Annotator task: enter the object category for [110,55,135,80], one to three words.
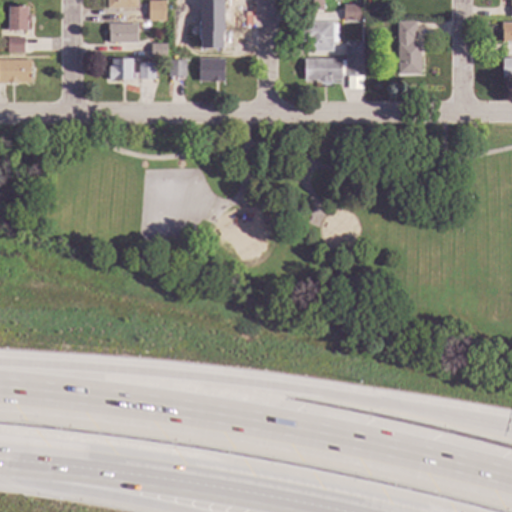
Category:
house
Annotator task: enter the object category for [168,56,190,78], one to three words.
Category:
building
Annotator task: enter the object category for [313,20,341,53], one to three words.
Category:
house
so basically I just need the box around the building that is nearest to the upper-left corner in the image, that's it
[8,3,30,30]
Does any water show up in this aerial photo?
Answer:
No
